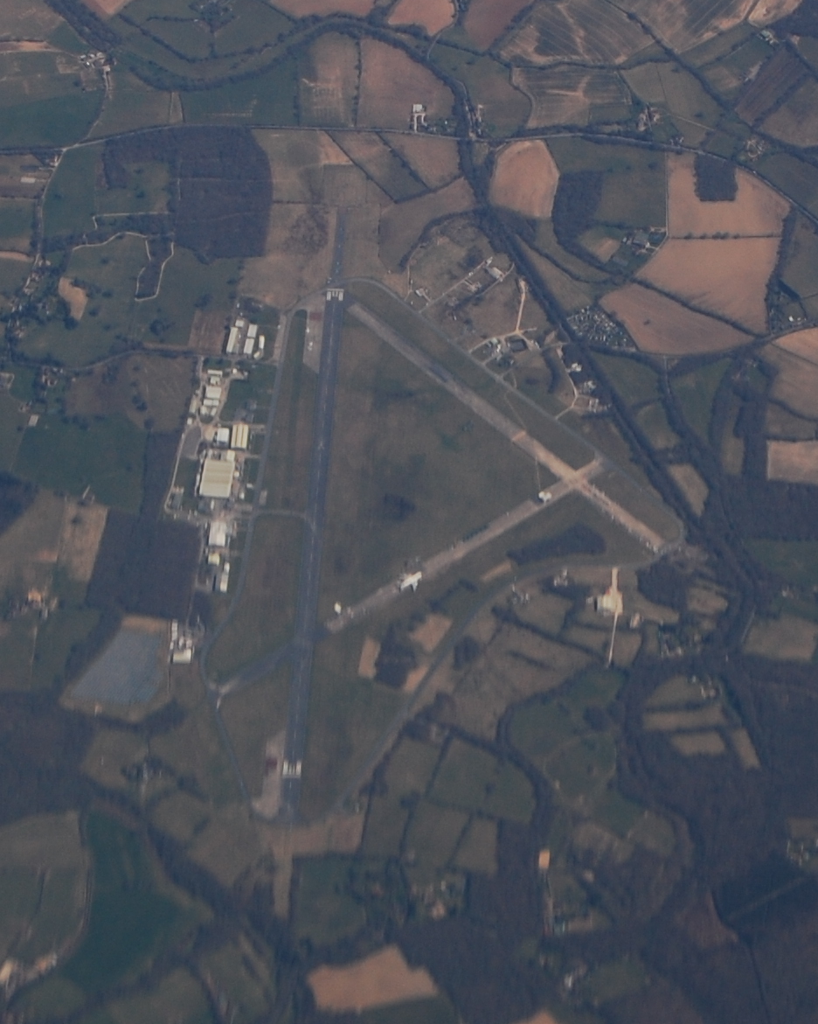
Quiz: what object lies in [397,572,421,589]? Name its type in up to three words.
airplane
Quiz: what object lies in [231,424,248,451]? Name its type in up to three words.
hangar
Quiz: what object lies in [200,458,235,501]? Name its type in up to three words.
hangar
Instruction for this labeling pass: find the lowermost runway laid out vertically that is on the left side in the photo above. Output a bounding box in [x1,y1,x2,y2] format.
[281,289,345,820]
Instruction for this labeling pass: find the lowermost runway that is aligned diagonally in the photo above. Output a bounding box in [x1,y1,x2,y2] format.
[328,455,604,635]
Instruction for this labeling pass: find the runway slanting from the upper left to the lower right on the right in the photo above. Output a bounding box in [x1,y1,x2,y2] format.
[347,303,665,551]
